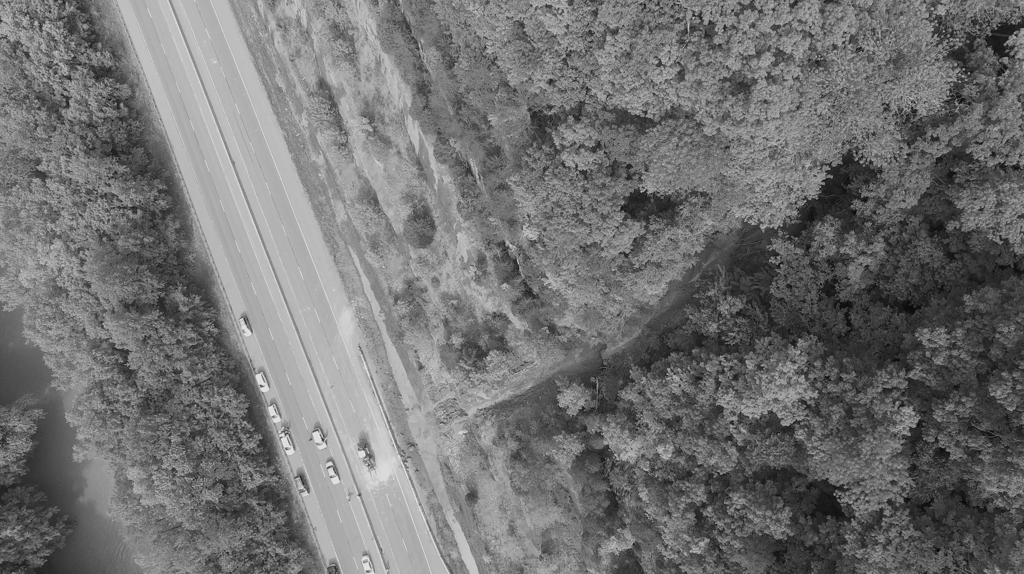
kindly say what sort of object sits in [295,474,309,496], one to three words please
car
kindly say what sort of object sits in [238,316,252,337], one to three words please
car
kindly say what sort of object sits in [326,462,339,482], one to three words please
vehicle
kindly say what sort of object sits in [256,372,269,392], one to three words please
vehicle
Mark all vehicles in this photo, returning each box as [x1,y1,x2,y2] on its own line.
[238,316,252,337]
[358,443,377,475]
[268,403,281,423]
[327,563,338,574]
[280,433,294,454]
[326,462,339,482]
[361,554,374,574]
[313,429,328,449]
[256,372,269,392]
[295,474,309,496]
